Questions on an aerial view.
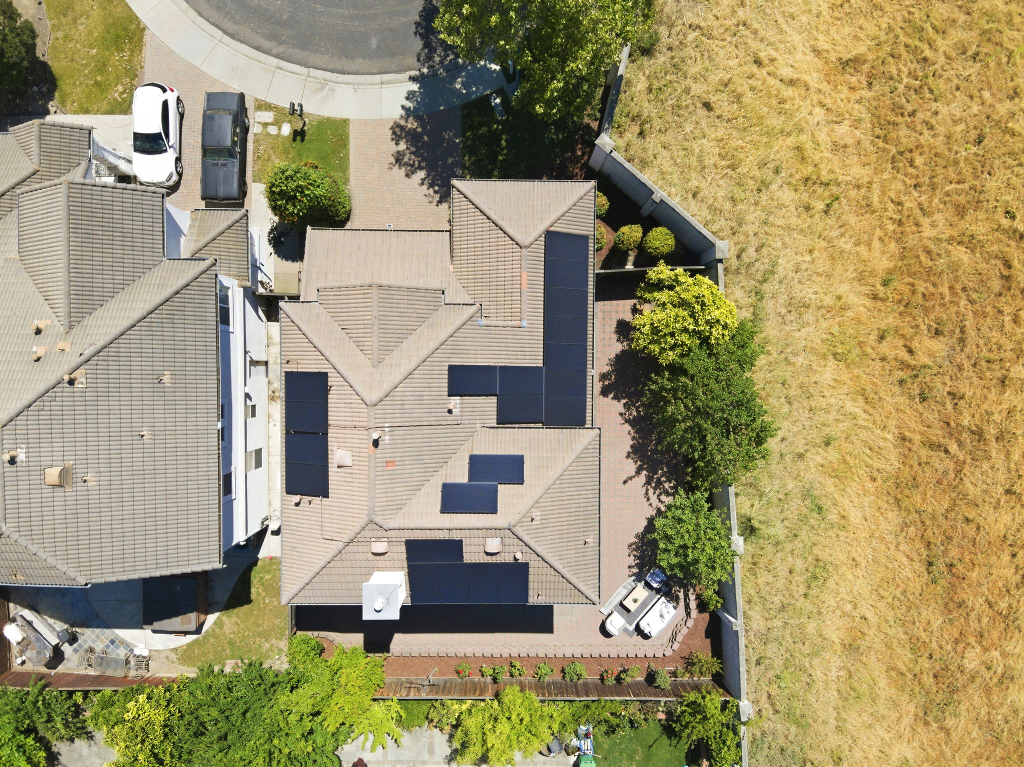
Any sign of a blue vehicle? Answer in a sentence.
No, the scene contains no blue vehicle.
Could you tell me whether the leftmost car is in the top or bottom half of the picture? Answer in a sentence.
The leftmost car sits in the top half of the picture.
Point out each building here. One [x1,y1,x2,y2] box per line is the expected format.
[279,180,601,619]
[0,121,272,587]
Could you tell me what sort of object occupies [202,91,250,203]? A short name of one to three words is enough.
car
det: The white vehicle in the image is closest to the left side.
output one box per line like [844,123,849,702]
[129,84,188,190]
